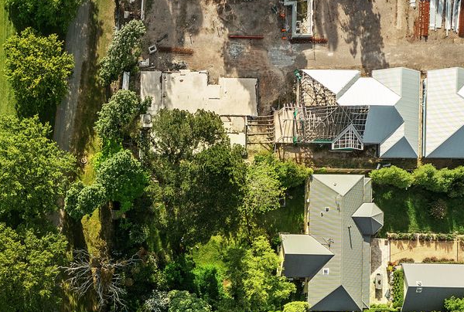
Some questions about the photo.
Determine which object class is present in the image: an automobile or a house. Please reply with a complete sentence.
I can see a house in this picture.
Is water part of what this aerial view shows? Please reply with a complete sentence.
No, no water is visible.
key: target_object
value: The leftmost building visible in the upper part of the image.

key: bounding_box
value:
[296,64,419,159]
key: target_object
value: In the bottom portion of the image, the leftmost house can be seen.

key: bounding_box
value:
[278,174,394,312]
